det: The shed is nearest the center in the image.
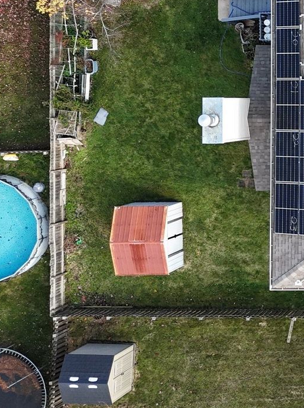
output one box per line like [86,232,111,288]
[109,203,183,276]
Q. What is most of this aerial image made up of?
grass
